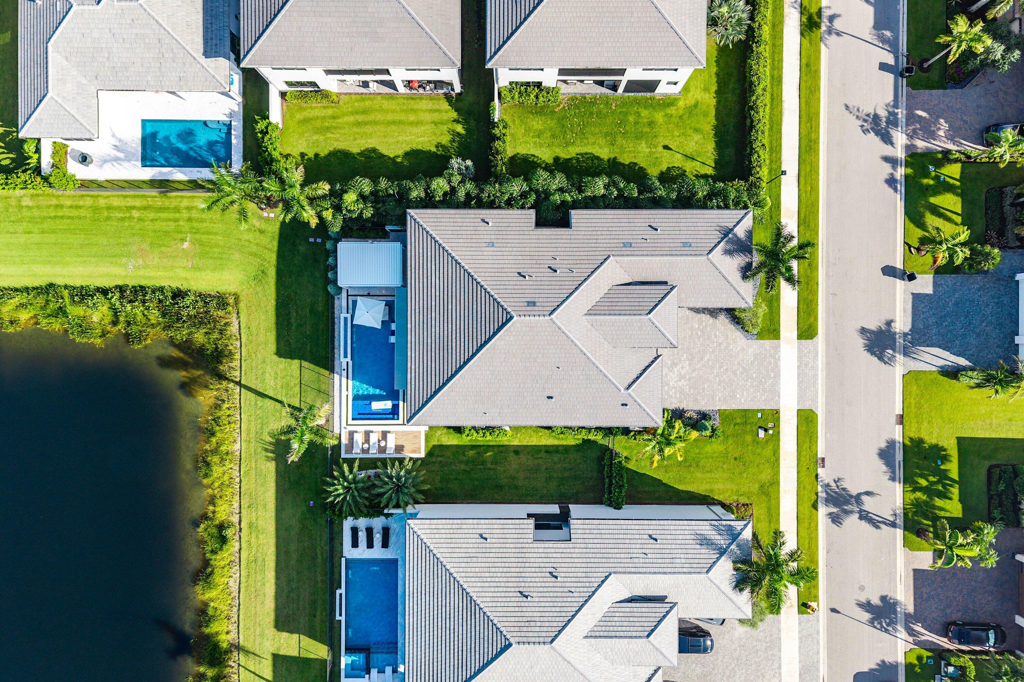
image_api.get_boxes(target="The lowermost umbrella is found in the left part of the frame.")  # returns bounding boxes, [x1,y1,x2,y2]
[352,296,388,329]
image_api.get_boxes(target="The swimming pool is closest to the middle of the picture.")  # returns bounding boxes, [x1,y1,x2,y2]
[352,300,400,421]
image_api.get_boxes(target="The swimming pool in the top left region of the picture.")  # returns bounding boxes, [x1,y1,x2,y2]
[141,119,233,168]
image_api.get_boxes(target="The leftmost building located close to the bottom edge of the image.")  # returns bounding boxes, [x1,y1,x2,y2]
[405,503,753,682]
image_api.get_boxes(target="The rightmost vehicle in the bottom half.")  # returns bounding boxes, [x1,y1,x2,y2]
[946,619,1003,649]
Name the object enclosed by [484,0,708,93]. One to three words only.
house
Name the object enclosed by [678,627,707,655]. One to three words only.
car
